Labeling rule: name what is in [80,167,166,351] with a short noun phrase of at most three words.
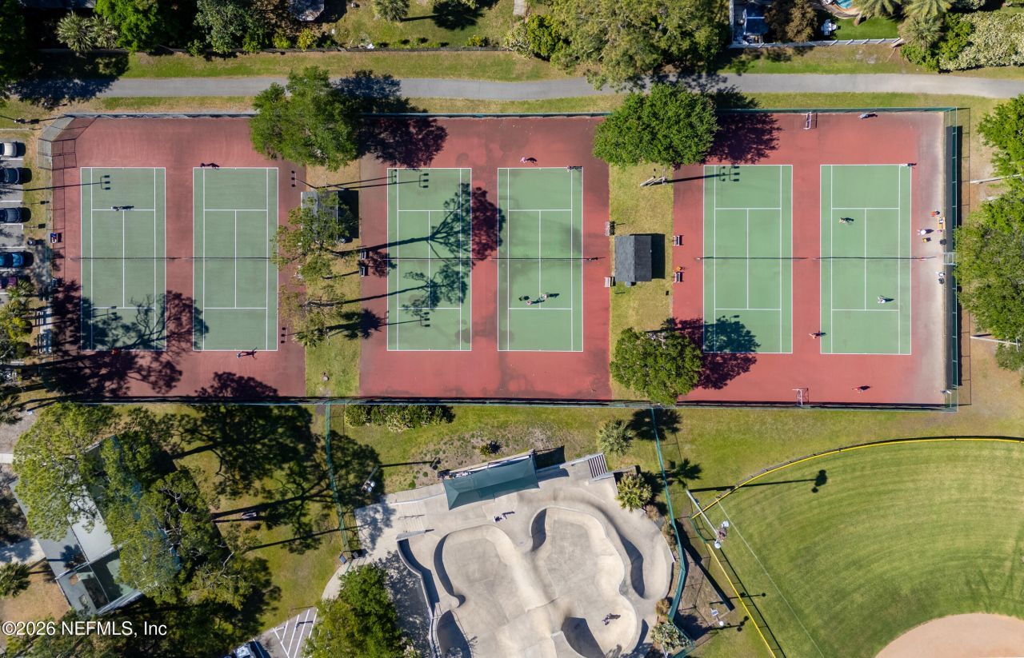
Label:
tennis court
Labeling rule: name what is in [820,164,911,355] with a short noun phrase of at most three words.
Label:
tennis court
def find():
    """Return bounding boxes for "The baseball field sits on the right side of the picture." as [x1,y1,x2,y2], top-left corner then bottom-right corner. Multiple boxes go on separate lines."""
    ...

[693,440,1024,658]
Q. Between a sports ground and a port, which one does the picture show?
sports ground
